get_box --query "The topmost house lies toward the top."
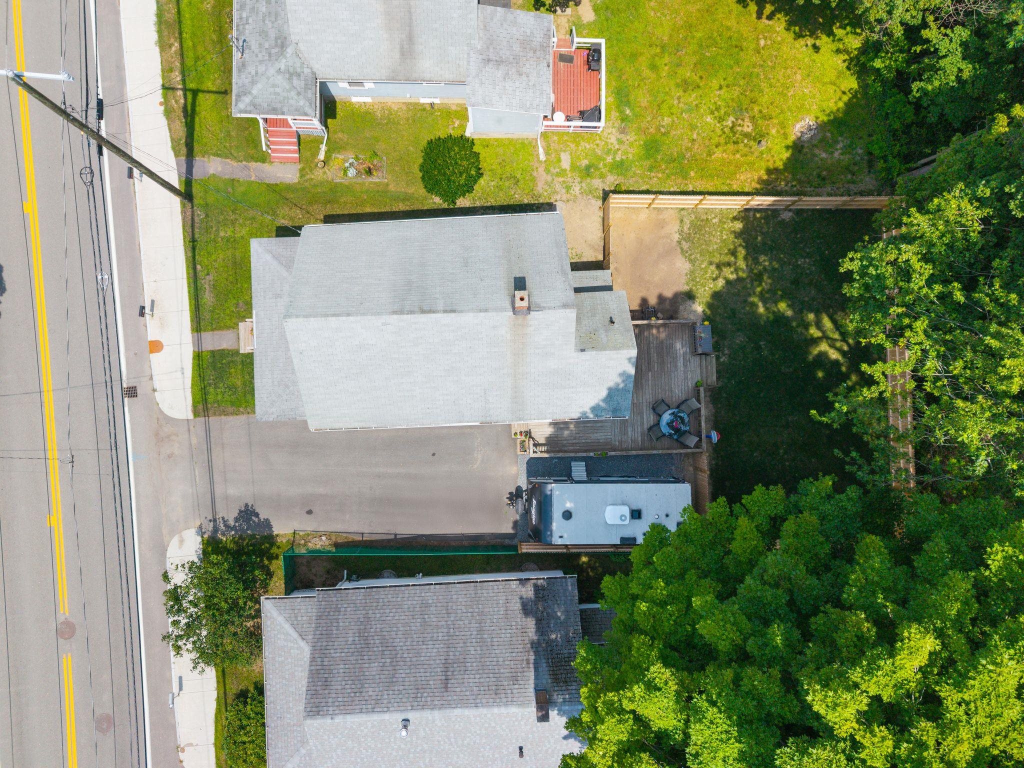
[218,0,554,159]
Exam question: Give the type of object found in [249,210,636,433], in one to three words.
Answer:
house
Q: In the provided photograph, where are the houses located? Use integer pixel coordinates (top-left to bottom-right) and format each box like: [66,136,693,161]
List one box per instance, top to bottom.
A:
[218,0,554,159]
[249,210,636,433]
[261,570,630,768]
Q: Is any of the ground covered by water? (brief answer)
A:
No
